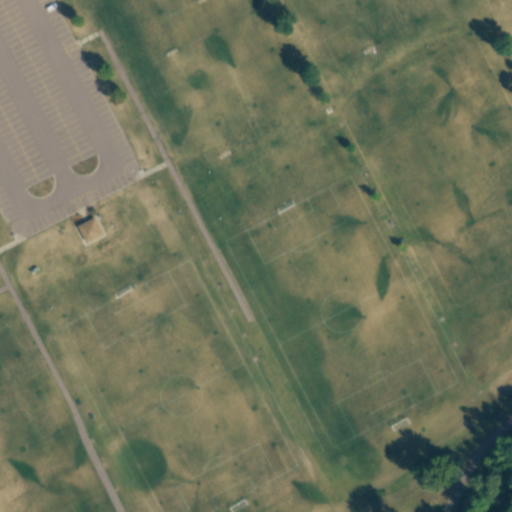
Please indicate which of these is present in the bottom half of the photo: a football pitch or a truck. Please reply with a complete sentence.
The feature located in the bottom half of the photo is a football pitch.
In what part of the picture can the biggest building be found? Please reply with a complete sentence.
The biggest building is located in the left region of the scene.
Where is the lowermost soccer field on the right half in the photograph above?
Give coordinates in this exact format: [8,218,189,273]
[226,174,460,446]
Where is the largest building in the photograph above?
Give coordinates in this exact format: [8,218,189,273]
[78,218,106,245]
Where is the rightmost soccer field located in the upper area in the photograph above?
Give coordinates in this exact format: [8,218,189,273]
[346,36,512,306]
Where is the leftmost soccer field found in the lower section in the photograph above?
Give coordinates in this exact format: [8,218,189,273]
[64,260,298,512]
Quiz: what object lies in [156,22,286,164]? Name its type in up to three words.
soccer field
